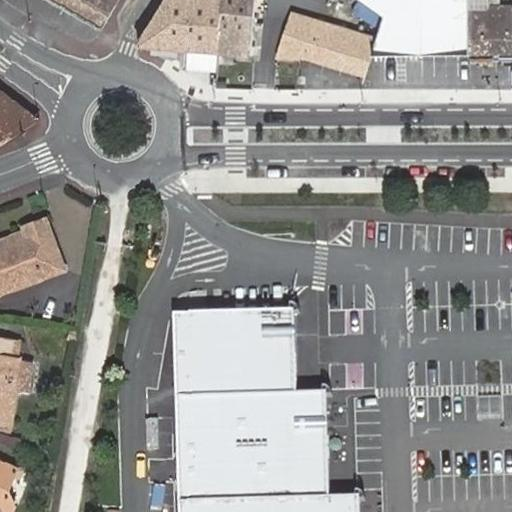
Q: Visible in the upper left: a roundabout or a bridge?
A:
roundabout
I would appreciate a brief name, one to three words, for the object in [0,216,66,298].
house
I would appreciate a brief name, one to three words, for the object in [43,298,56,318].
vehicle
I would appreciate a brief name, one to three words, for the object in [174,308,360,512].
building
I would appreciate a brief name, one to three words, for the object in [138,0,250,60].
house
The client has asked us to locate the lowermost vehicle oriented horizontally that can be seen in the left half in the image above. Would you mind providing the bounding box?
[180,290,208,302]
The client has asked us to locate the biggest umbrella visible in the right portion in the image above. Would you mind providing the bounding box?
[329,437,342,451]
